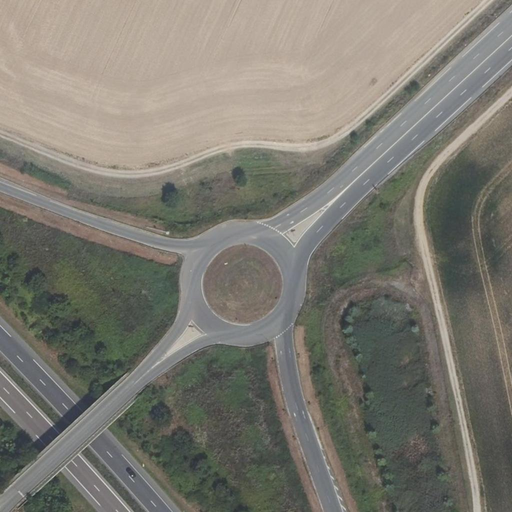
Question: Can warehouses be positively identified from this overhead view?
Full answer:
No, there is no warehouse in the image.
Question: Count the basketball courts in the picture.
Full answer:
Not a single basketball court can be seen.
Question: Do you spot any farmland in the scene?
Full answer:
Yes, the picture does contain farmland.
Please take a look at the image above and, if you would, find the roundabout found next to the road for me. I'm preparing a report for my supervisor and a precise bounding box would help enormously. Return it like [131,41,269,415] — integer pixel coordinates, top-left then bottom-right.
[158,192,342,364]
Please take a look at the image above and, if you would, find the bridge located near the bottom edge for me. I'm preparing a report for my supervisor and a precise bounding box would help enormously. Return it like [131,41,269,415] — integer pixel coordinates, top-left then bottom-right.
[0,365,152,512]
